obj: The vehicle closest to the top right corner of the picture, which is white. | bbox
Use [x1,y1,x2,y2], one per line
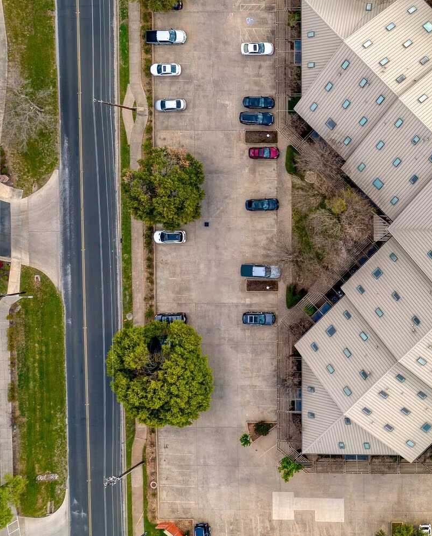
[241,40,274,56]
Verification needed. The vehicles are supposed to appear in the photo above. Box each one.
[151,61,184,77]
[243,94,276,110]
[241,40,274,56]
[240,264,282,280]
[239,110,275,125]
[194,521,212,536]
[419,522,432,536]
[156,96,189,112]
[145,28,188,45]
[152,0,186,13]
[154,311,189,325]
[242,311,276,326]
[154,229,189,245]
[248,145,281,160]
[245,197,280,212]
